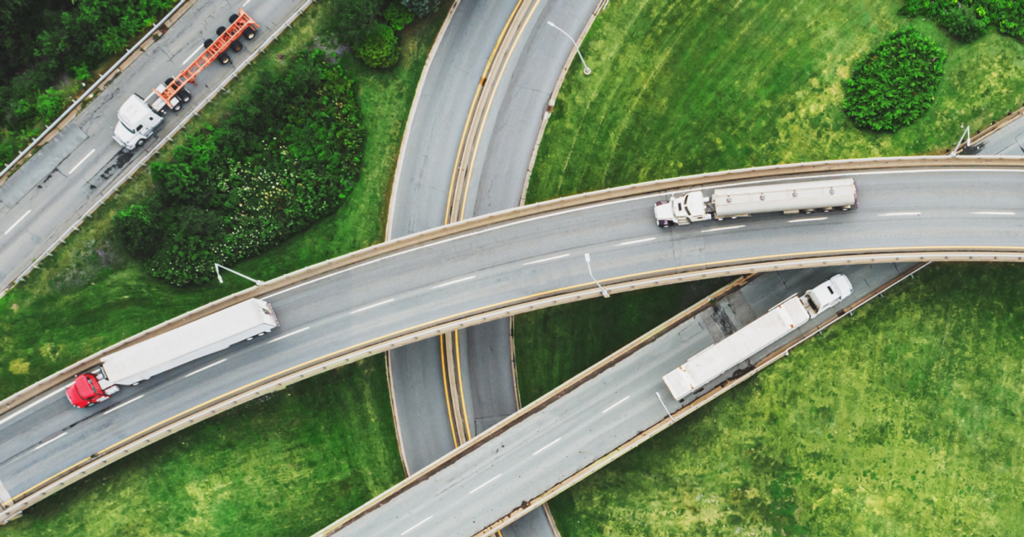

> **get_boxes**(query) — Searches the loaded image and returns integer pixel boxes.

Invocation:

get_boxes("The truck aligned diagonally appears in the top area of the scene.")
[114,4,257,151]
